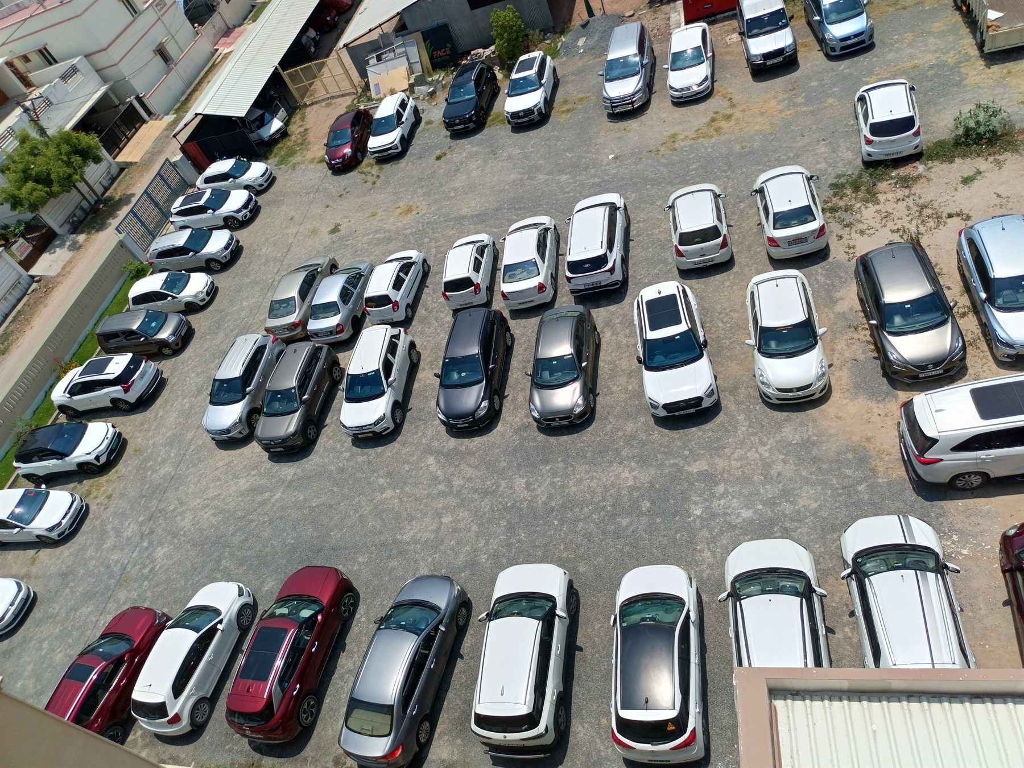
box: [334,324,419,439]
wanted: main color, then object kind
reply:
white car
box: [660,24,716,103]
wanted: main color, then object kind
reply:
white car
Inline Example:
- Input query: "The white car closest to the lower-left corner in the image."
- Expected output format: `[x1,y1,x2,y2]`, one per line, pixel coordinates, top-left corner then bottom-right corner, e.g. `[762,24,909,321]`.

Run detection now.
[0,576,36,637]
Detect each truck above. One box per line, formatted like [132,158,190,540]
[679,0,733,29]
[957,0,1024,52]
